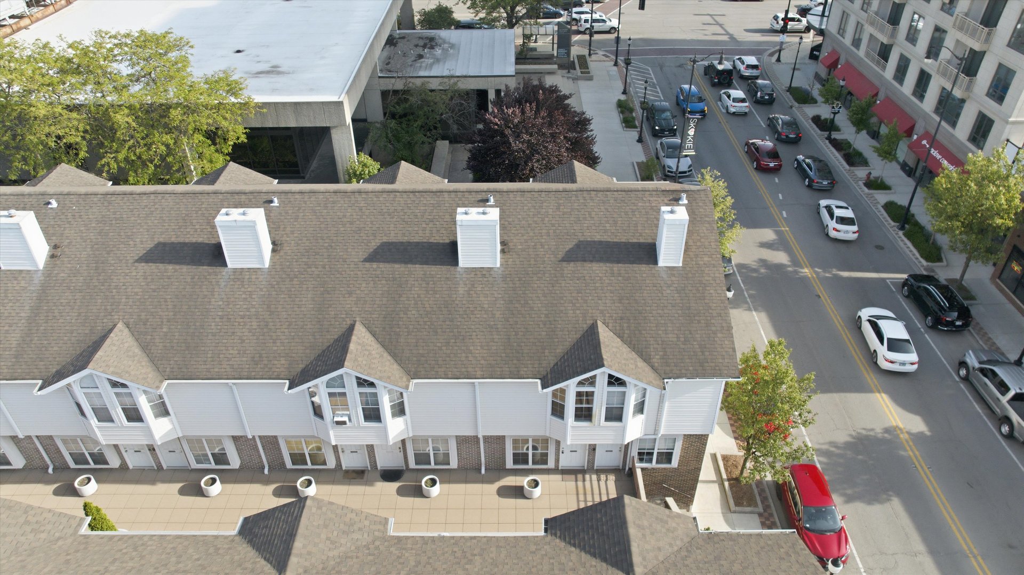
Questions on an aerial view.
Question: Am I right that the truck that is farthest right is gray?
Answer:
Yes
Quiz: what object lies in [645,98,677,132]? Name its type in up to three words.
truck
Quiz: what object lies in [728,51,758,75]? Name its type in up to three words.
car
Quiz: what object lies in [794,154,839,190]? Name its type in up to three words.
car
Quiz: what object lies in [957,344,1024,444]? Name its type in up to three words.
truck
